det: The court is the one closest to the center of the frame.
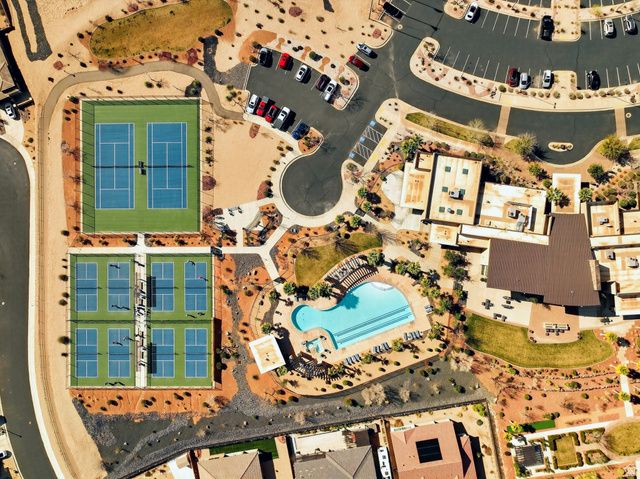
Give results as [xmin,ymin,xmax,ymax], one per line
[182,263,208,311]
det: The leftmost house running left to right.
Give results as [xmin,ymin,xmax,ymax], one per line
[198,450,265,479]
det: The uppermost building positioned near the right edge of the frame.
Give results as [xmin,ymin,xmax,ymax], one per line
[397,151,640,316]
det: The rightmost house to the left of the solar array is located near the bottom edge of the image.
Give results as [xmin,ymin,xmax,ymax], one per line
[294,443,377,479]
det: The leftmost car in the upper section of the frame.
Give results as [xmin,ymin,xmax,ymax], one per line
[4,102,19,120]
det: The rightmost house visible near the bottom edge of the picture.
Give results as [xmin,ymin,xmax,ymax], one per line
[390,418,476,479]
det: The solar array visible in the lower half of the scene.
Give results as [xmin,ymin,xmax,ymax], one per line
[416,438,442,463]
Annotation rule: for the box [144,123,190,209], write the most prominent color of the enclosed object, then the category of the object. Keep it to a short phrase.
blue tennis court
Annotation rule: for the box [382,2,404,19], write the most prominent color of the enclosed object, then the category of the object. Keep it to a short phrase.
black vehicle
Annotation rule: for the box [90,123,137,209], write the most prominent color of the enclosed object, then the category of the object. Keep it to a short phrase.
blue tennis court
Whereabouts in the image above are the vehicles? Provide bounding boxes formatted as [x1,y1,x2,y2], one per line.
[4,102,19,120]
[296,64,307,82]
[292,120,307,140]
[266,104,278,123]
[466,2,478,21]
[279,52,290,70]
[274,106,289,128]
[382,2,404,19]
[358,43,376,57]
[542,69,552,88]
[508,68,518,86]
[325,79,338,100]
[589,71,599,89]
[248,94,258,113]
[349,56,367,70]
[258,48,269,66]
[603,18,614,36]
[542,16,552,39]
[624,15,636,34]
[256,95,268,116]
[0,450,10,460]
[316,73,328,92]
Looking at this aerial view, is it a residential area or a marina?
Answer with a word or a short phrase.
residential area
